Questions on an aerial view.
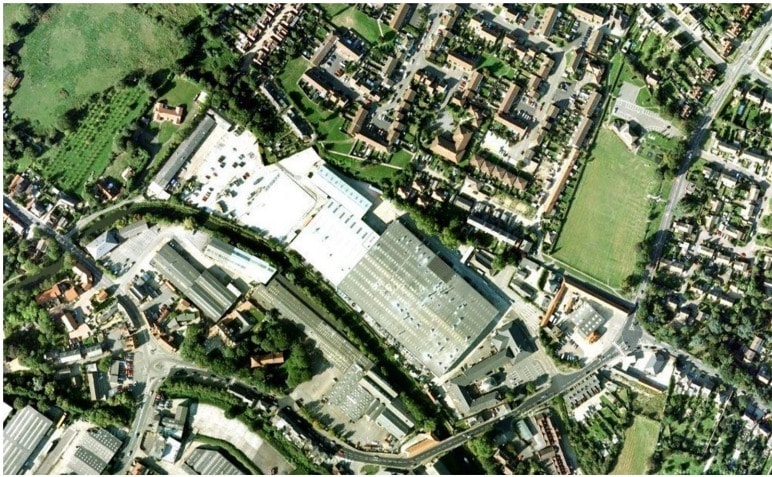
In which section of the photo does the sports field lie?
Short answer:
right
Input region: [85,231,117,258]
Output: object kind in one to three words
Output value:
building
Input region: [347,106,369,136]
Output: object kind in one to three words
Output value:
house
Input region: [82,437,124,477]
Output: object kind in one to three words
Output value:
building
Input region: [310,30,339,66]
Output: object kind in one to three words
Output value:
house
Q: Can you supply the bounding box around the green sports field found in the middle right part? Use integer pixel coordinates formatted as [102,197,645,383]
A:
[550,123,664,290]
